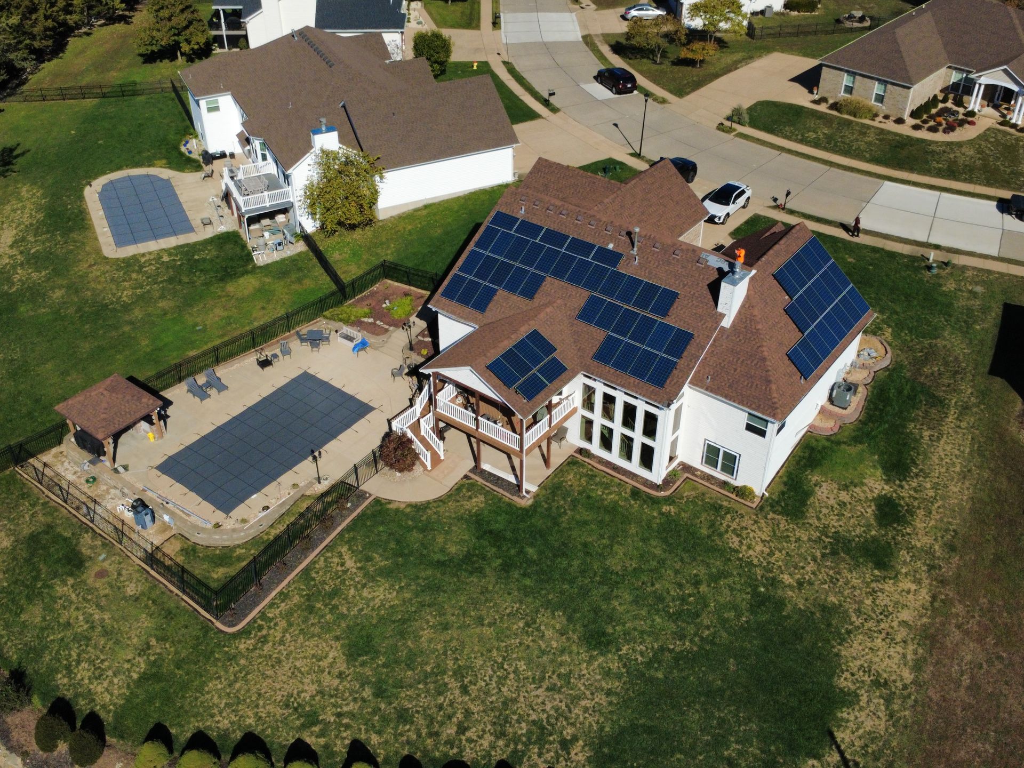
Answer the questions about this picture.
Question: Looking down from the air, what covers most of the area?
grass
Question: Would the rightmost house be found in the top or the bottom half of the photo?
top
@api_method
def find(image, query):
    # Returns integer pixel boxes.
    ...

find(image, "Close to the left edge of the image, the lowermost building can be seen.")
[51,372,167,470]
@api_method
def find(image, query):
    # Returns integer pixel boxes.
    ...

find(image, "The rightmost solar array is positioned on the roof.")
[775,237,872,378]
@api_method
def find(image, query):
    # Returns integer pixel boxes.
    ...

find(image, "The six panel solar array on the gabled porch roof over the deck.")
[488,328,567,400]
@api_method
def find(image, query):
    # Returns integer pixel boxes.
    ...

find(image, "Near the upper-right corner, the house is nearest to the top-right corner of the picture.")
[814,0,1024,126]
